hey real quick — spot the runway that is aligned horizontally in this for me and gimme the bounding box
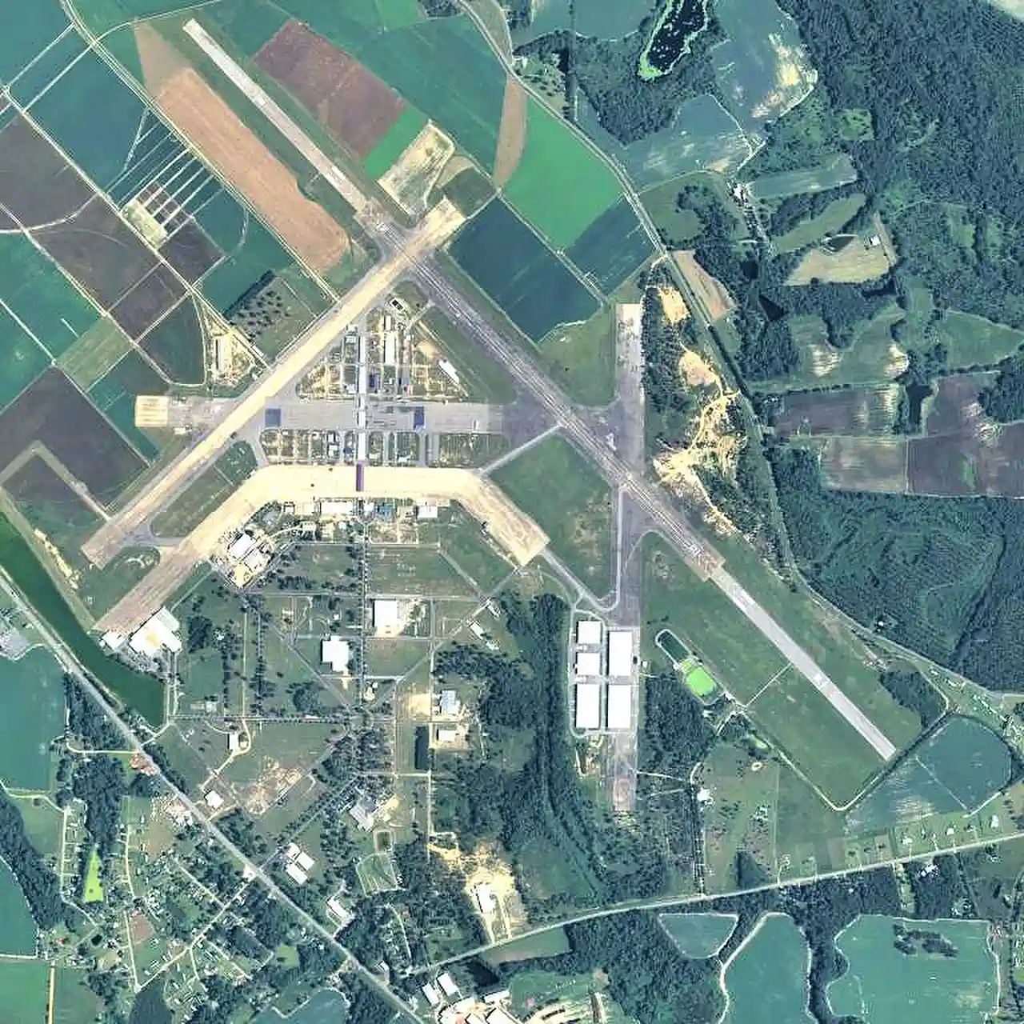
[166,398,502,432]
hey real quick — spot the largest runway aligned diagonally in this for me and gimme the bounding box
[352,196,705,581]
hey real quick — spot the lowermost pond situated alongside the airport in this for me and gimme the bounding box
[0,510,166,727]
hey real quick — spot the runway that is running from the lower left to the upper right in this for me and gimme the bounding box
[87,199,465,568]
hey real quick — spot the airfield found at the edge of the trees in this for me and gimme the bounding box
[81,19,896,810]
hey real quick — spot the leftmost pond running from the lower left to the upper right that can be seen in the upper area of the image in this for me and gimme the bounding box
[648,0,702,70]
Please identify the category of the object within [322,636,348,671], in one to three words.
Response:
building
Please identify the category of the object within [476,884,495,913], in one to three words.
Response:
building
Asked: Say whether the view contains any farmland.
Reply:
Yes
